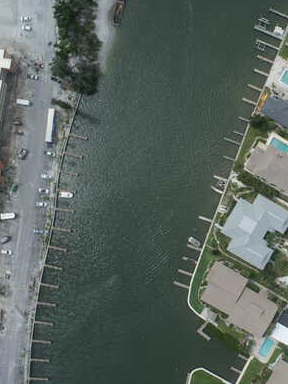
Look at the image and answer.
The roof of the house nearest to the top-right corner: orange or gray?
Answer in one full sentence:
The roof of the house nearest to the top-right corner looks gray in the image.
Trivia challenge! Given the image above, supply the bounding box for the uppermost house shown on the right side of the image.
[263,96,288,129]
